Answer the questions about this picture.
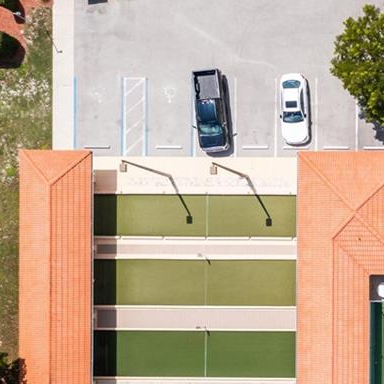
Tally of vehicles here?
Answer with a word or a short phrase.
two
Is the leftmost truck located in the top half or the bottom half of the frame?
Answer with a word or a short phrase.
top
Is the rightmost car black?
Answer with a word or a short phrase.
No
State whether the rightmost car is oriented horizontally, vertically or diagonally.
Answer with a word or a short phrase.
vertically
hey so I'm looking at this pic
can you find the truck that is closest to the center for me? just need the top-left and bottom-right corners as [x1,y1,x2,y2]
[191,67,232,152]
